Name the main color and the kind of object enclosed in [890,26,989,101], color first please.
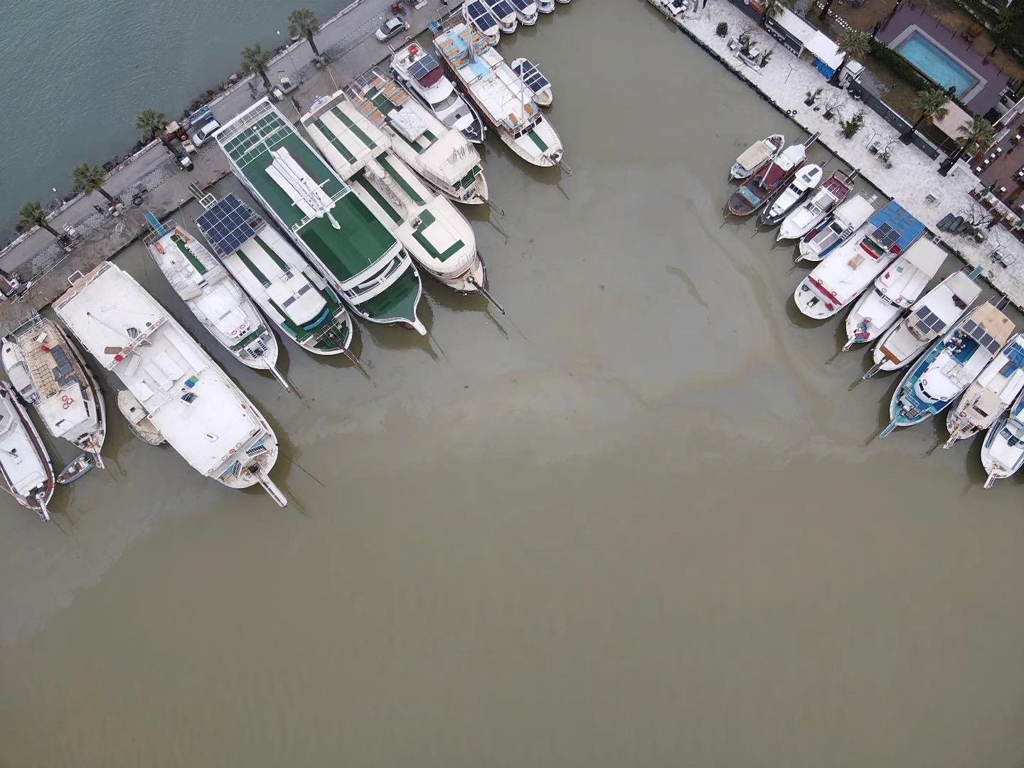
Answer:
blue swimming pool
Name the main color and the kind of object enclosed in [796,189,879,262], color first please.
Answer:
white boat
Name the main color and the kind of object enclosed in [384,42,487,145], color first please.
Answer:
white boat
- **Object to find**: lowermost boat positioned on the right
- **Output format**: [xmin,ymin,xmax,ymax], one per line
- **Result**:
[979,393,1024,489]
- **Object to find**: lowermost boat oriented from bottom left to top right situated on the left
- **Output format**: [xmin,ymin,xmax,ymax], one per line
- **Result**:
[56,452,102,485]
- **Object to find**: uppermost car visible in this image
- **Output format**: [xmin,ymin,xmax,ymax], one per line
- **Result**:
[376,13,408,41]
